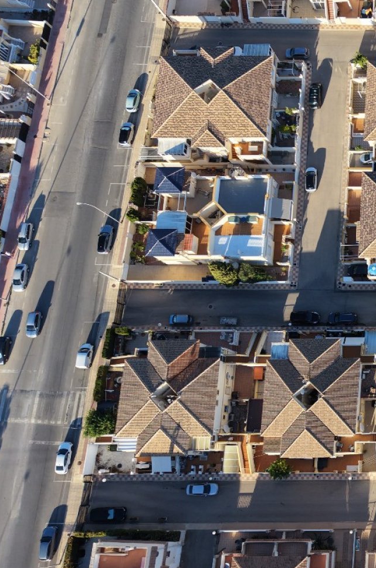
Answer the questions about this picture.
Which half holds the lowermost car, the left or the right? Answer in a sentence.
The lowermost car sits on the left side.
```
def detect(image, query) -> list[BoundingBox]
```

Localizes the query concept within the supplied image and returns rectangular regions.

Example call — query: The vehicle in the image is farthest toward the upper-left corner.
[125,89,142,112]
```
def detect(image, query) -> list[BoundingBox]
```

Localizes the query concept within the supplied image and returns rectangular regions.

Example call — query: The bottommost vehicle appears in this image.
[37,526,59,561]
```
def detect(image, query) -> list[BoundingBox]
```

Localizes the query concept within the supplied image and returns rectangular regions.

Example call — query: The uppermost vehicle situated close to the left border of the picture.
[14,221,36,251]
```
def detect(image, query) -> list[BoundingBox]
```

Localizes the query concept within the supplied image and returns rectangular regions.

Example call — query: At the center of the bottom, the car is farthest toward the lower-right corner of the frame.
[185,481,220,496]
